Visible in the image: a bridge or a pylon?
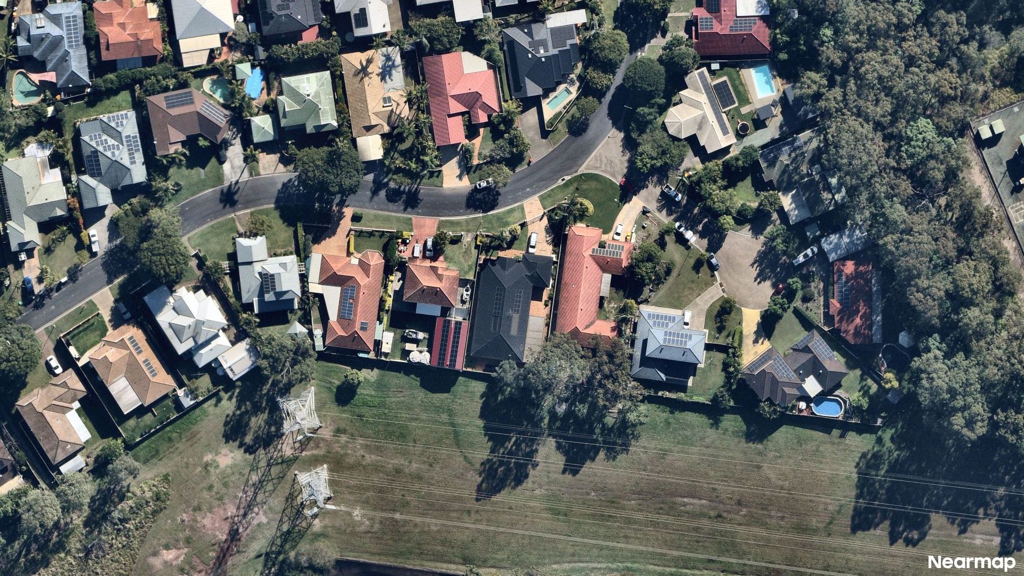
pylon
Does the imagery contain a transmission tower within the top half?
No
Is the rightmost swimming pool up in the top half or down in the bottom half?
bottom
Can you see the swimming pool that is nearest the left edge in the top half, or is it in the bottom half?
top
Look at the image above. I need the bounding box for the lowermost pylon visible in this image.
[294,464,334,509]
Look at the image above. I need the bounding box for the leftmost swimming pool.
[12,70,42,105]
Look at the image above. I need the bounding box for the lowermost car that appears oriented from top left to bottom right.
[46,354,63,375]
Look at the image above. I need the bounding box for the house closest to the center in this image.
[470,254,555,361]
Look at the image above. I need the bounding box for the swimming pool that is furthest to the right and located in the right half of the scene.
[810,396,845,419]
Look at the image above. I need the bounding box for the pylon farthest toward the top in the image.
[277,387,323,436]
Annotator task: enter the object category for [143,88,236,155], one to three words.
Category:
house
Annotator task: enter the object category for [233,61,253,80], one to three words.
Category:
gazebo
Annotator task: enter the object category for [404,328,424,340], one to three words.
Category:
boat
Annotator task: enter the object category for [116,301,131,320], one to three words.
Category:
car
